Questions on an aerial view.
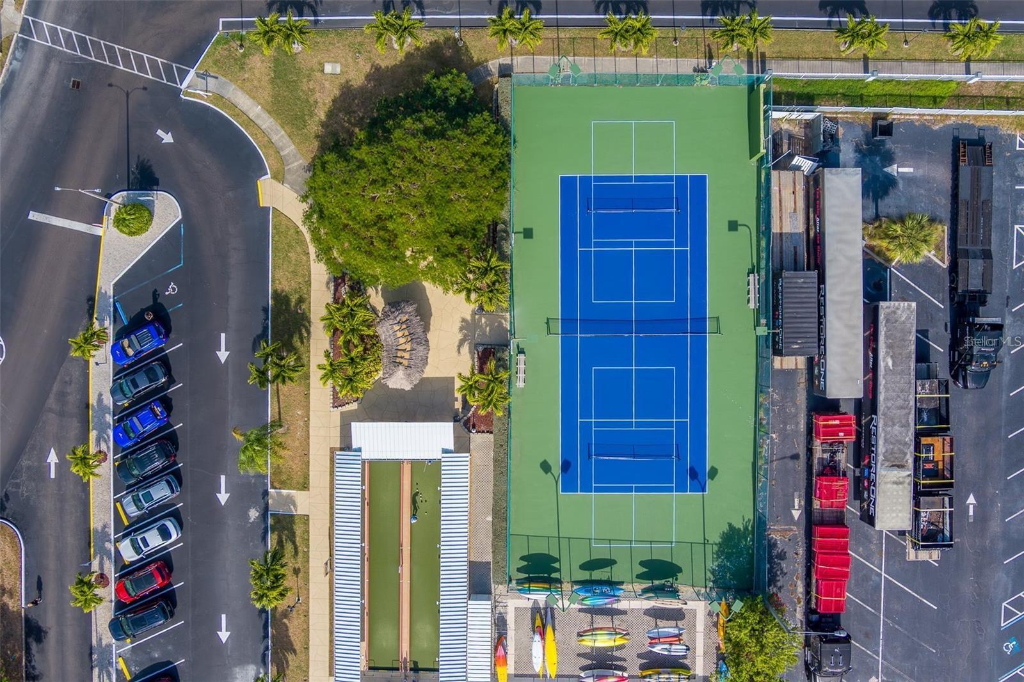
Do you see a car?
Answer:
Yes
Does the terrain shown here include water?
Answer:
No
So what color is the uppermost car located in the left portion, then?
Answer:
blue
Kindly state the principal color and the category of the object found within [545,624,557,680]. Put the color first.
yellow boat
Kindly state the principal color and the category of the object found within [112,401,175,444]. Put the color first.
blue car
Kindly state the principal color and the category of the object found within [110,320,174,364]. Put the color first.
blue car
